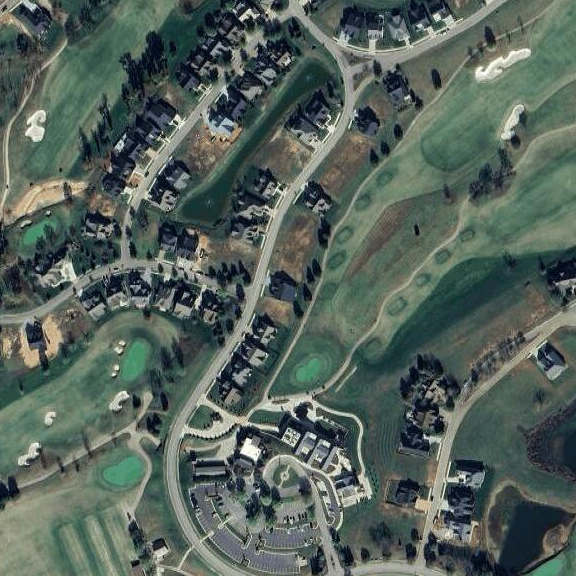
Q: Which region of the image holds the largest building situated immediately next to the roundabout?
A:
bottom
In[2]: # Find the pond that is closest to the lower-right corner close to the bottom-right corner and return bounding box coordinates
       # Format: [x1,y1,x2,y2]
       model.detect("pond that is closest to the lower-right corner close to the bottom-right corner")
[501,500,575,576]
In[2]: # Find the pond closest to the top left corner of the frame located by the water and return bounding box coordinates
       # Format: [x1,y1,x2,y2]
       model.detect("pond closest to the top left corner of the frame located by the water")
[180,57,331,225]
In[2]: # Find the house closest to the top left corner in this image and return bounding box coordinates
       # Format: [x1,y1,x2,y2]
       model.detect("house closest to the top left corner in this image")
[22,3,48,33]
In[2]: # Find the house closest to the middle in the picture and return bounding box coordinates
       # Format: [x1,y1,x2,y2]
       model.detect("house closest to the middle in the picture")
[267,274,298,301]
